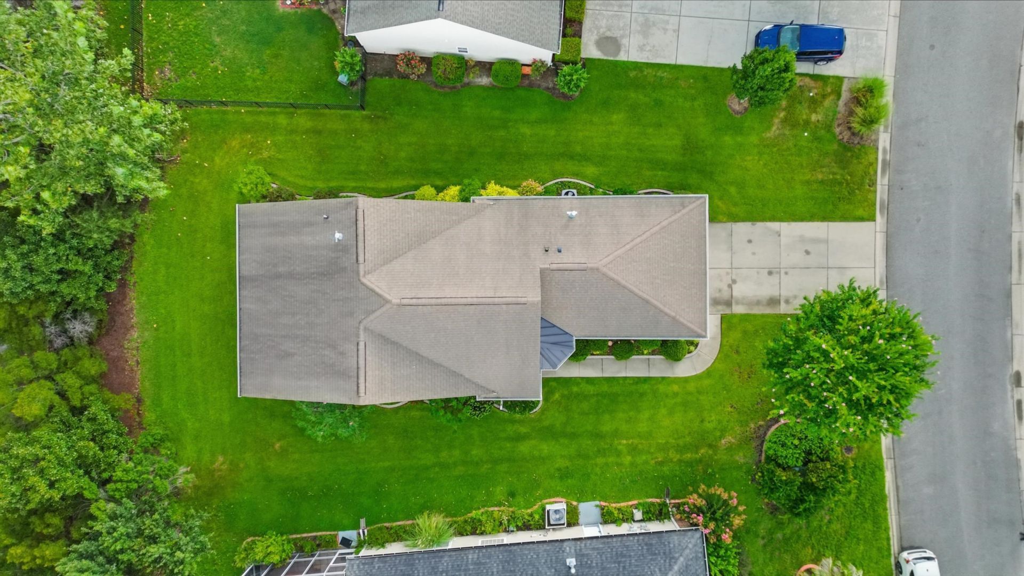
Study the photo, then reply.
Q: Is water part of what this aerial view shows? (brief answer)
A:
No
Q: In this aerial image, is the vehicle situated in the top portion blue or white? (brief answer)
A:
blue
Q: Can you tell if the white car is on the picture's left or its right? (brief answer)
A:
right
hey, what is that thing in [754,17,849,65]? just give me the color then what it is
blue vehicle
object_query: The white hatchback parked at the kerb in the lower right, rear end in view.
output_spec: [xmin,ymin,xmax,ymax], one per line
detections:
[899,549,941,576]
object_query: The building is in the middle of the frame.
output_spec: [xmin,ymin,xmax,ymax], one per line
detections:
[234,194,710,416]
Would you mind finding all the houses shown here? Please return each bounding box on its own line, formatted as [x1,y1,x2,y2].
[345,502,712,576]
[234,194,710,416]
[343,0,566,71]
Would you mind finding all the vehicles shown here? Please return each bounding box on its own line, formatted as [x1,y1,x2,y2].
[899,549,941,576]
[754,17,849,65]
